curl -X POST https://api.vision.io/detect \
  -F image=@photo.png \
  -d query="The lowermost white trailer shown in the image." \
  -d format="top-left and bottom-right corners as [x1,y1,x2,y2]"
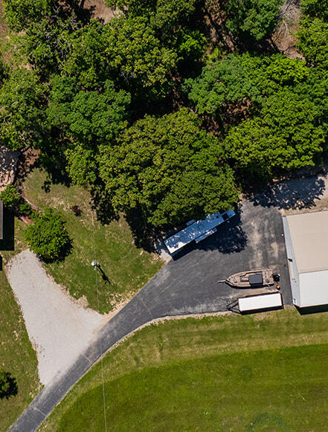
[223,291,284,312]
